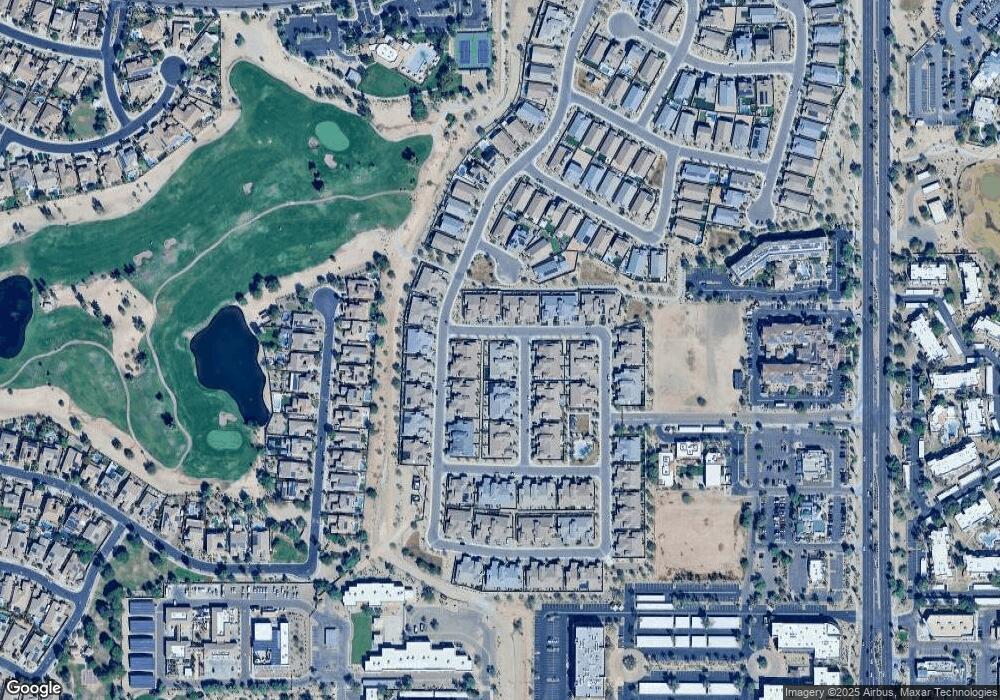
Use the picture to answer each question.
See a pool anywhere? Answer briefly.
Yes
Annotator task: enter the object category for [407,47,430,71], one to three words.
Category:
swimming pool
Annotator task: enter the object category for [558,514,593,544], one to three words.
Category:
house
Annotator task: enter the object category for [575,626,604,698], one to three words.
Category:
building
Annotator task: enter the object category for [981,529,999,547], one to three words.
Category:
swimming pool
